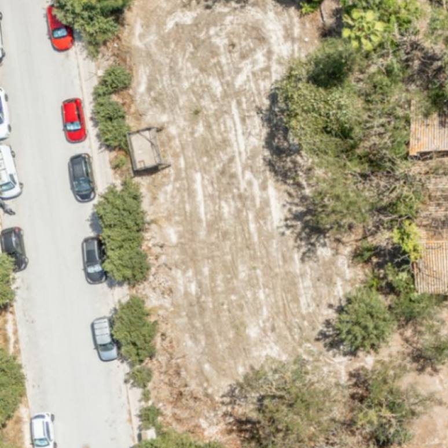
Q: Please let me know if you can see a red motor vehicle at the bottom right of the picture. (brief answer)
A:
No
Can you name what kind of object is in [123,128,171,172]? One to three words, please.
trailer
